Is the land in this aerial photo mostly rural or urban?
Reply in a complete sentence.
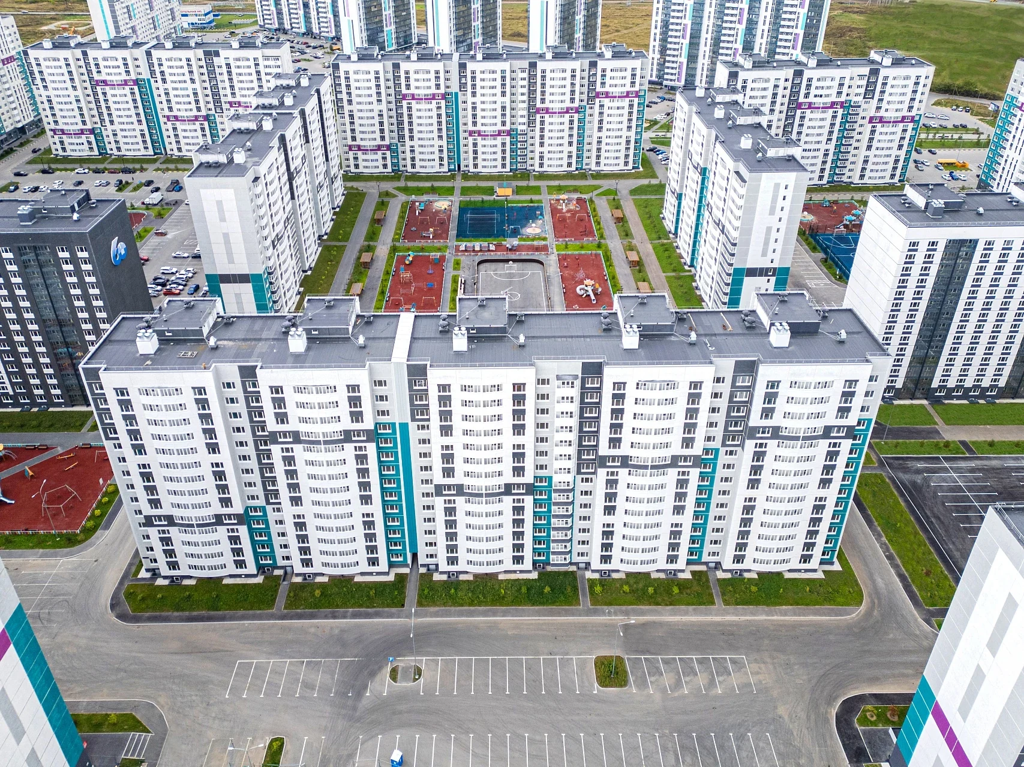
This place is urban.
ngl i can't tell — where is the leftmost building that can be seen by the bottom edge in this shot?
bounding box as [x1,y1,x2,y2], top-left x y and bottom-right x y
[0,560,84,767]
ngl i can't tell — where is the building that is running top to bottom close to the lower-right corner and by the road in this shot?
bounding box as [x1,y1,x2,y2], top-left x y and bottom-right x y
[900,501,1024,767]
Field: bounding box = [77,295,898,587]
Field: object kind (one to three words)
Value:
building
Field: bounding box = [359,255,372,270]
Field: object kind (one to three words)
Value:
gazebo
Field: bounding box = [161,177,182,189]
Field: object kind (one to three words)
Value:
vehicle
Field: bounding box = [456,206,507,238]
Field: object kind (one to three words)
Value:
sports court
